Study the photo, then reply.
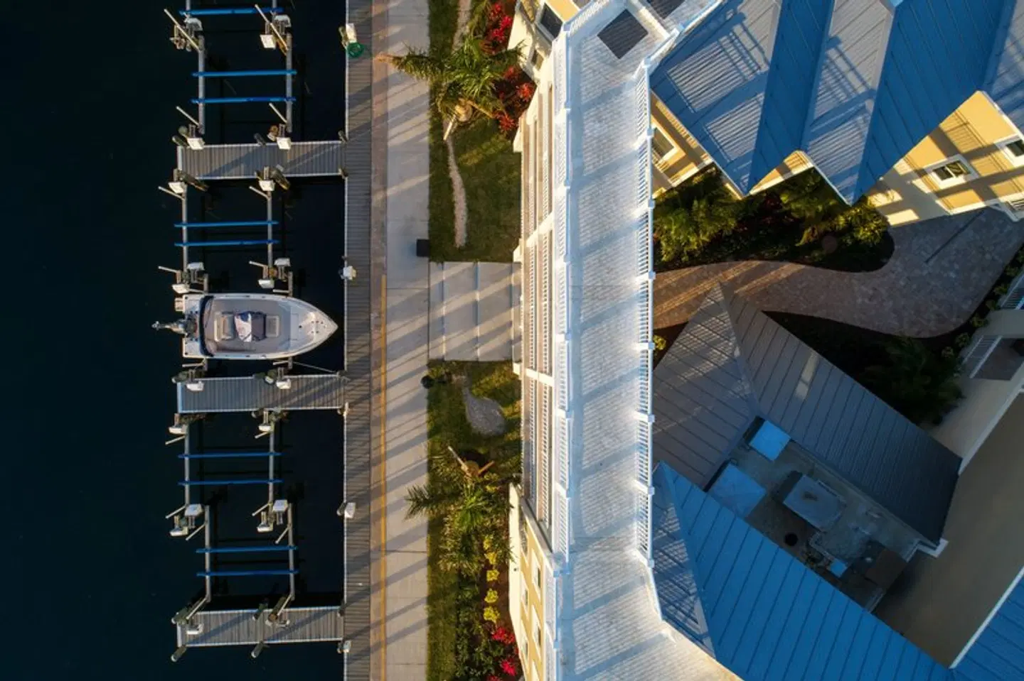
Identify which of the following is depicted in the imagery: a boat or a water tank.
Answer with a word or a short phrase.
boat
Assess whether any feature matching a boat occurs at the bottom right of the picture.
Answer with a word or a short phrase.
No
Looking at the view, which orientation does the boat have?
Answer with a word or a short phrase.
horizontally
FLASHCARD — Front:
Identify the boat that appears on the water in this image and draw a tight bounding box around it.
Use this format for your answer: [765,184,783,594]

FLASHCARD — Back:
[154,292,338,362]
